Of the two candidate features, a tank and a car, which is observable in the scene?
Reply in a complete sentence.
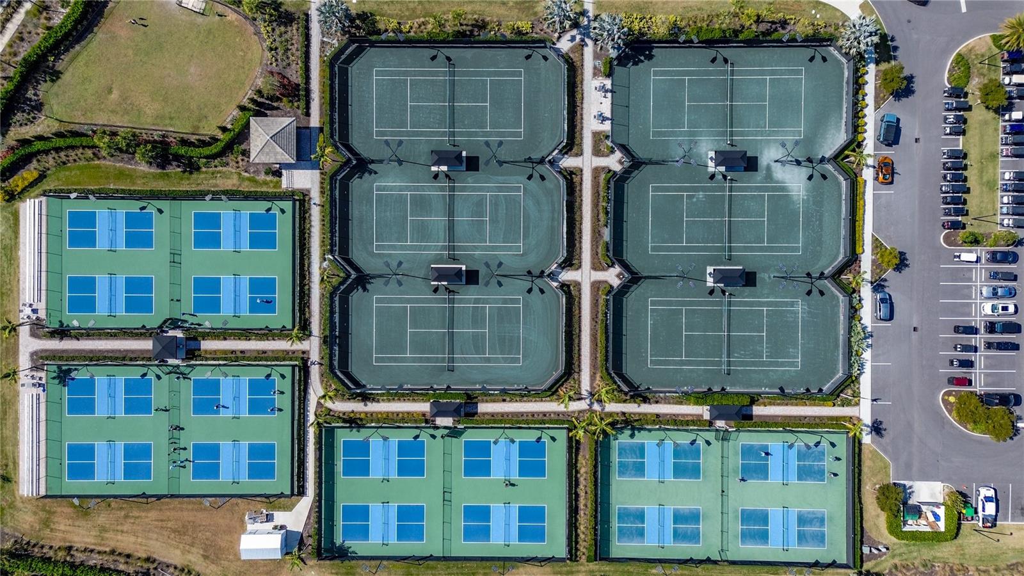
The image shows a car.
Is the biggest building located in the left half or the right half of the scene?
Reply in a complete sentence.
The biggest building is on the left side of the image.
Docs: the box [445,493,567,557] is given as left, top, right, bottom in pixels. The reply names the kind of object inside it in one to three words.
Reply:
sports court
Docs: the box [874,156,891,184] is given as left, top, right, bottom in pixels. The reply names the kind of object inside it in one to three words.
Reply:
car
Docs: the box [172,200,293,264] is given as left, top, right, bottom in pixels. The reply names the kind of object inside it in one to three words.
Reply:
sports court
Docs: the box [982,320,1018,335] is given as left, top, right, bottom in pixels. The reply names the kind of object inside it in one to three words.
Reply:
car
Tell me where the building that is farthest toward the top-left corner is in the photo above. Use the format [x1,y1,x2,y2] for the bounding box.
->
[249,117,300,165]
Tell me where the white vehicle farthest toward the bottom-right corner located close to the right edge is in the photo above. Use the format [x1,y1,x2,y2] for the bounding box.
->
[975,486,994,526]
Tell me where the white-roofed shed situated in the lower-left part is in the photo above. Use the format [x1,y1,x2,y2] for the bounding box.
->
[237,529,286,560]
